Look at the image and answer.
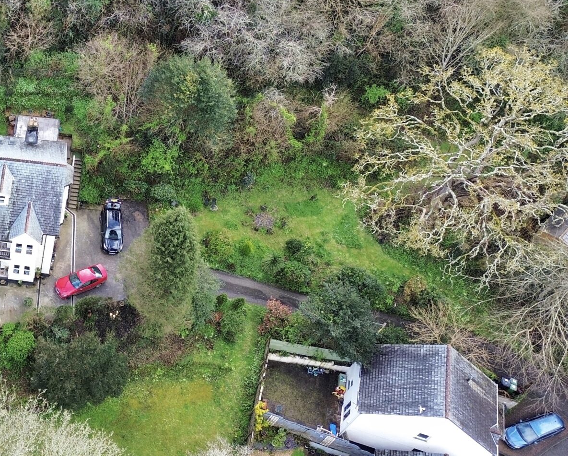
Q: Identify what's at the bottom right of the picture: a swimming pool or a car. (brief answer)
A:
car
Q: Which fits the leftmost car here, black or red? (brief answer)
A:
red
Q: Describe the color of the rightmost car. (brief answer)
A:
blue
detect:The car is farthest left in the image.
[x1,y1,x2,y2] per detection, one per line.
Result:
[50,259,113,301]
